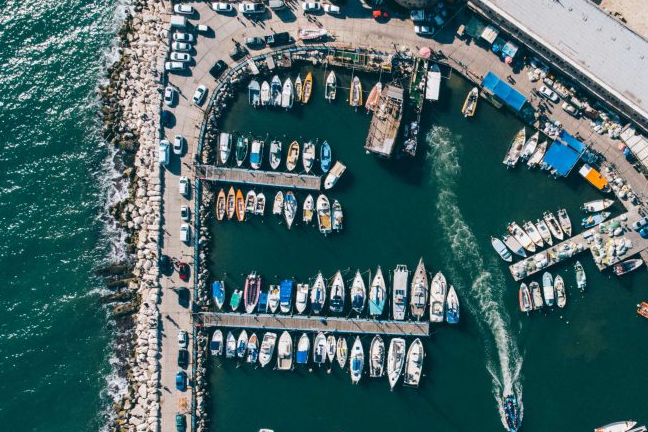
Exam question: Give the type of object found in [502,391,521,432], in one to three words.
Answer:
boat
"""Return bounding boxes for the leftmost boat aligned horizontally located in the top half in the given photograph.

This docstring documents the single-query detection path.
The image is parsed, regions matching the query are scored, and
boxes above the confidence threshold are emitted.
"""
[296,26,326,40]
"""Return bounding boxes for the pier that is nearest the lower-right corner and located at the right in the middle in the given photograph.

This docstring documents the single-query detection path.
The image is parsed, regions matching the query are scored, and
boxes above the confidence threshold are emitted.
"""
[509,210,639,280]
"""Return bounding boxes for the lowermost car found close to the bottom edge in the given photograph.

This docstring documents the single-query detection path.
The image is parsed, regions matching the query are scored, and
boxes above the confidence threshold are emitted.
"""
[174,410,186,431]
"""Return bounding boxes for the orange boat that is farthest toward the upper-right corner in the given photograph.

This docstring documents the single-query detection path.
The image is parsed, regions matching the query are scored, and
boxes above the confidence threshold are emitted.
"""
[580,165,611,192]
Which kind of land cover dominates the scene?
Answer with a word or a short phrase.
water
